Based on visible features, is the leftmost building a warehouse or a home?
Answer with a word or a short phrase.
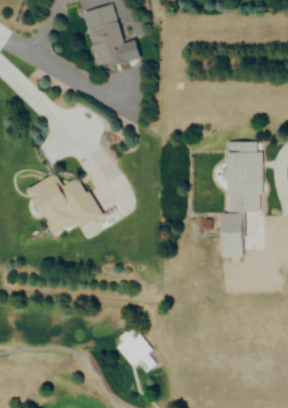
home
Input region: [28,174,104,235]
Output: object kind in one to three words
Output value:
house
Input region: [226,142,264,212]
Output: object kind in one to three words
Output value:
house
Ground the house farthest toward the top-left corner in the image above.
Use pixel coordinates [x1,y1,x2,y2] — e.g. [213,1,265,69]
[86,2,142,66]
